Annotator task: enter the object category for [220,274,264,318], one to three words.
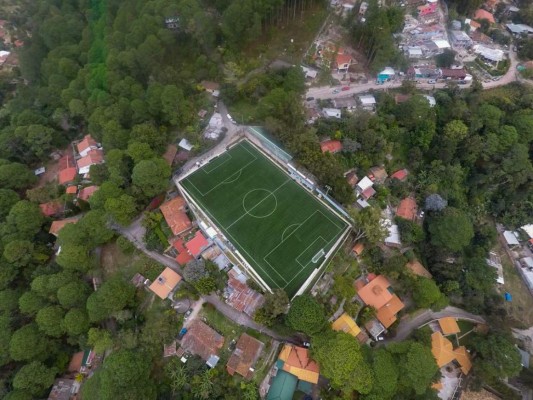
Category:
house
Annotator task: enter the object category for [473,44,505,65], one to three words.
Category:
building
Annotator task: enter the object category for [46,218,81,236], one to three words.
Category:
house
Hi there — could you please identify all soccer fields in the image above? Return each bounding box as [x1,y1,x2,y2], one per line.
[176,139,352,305]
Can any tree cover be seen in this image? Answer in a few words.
Yes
